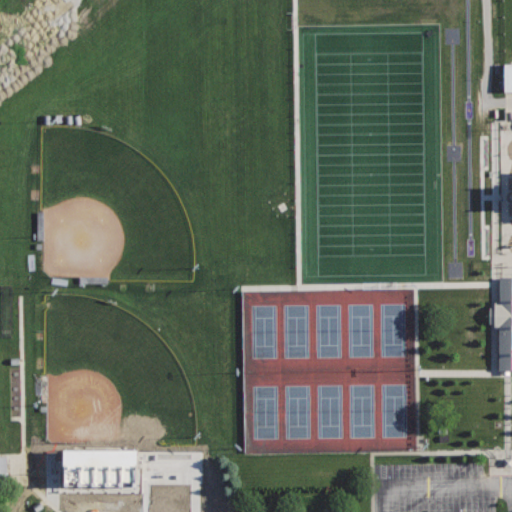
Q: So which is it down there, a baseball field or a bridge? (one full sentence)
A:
Visible in the photo is a baseball field.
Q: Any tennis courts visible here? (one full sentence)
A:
Yes, the image includes a tennis court.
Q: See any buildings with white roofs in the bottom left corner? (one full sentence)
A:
Yes, a building with a white roof appears in the bottom left corner.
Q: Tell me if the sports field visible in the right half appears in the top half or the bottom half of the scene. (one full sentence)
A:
It is in the top half that the sports field visible in the right half appears.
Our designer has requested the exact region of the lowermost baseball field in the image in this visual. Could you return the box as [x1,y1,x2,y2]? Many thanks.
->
[46,296,196,444]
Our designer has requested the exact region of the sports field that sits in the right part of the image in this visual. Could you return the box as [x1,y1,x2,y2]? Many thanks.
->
[300,24,444,284]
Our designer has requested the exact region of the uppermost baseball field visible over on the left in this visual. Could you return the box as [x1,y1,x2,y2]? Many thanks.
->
[42,126,194,282]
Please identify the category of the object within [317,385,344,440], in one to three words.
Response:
tennis court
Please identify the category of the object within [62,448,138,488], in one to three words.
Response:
building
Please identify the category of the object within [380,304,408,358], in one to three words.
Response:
tennis court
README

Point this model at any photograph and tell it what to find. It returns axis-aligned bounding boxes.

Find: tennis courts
[284,386,312,440]
[317,385,344,440]
[315,305,342,359]
[348,385,376,439]
[348,304,374,359]
[382,384,408,439]
[251,306,278,360]
[252,386,279,440]
[284,305,311,360]
[380,304,408,358]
